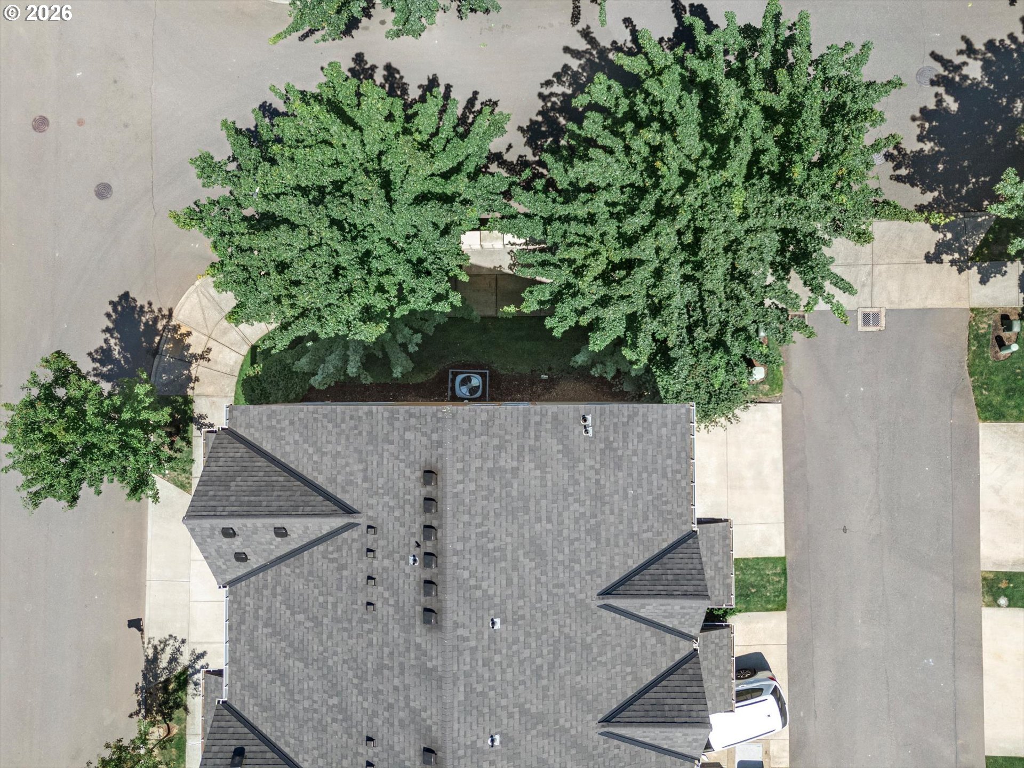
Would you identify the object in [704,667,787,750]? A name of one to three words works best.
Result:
car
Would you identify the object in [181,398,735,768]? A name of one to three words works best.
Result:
house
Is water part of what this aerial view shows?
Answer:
No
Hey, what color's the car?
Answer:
white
